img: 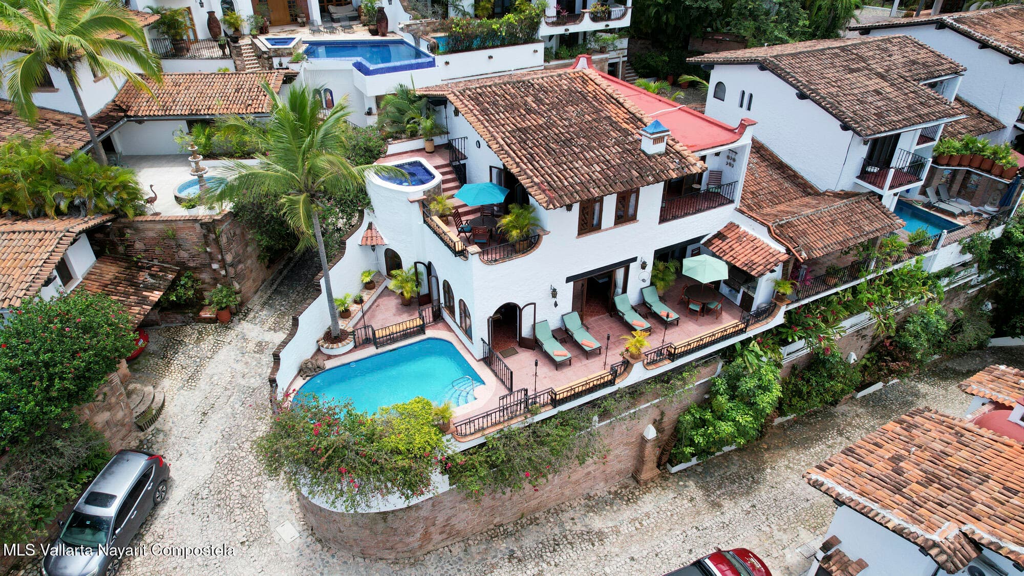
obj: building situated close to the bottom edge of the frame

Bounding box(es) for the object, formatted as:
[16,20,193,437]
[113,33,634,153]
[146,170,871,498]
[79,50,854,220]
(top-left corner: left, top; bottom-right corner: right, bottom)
[802,404,1024,576]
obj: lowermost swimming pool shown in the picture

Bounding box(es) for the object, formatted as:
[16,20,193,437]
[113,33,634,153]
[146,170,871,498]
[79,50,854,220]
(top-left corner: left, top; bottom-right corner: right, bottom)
[285,329,501,442]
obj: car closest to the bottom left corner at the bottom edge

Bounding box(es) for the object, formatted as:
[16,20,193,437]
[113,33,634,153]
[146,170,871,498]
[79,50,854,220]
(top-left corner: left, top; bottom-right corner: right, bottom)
[33,459,162,576]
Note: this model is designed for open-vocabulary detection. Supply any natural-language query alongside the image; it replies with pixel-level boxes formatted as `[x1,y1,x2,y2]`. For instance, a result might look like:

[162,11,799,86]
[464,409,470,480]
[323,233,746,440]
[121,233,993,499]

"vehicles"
[33,459,162,576]
[671,544,770,576]
[123,316,154,345]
